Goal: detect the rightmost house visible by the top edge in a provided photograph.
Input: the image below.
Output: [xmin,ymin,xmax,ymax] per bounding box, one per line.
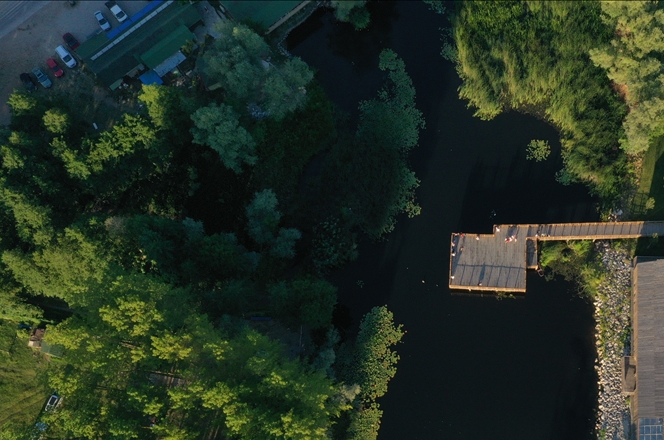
[225,0,310,40]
